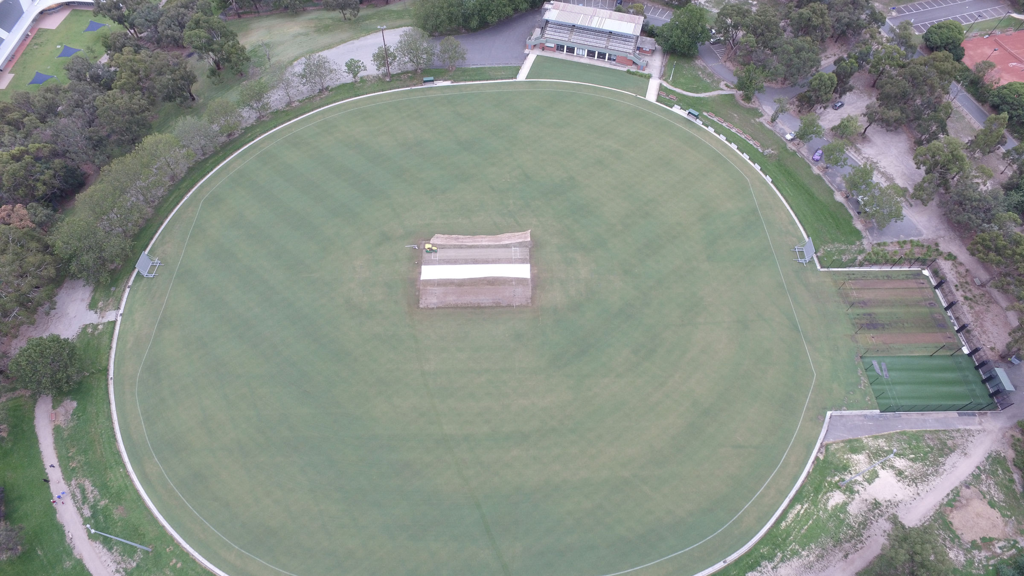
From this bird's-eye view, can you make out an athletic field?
Yes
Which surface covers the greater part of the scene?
grass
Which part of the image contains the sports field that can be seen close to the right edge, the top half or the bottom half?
bottom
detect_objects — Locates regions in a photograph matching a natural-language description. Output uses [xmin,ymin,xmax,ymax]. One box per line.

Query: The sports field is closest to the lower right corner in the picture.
[863,355,996,411]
